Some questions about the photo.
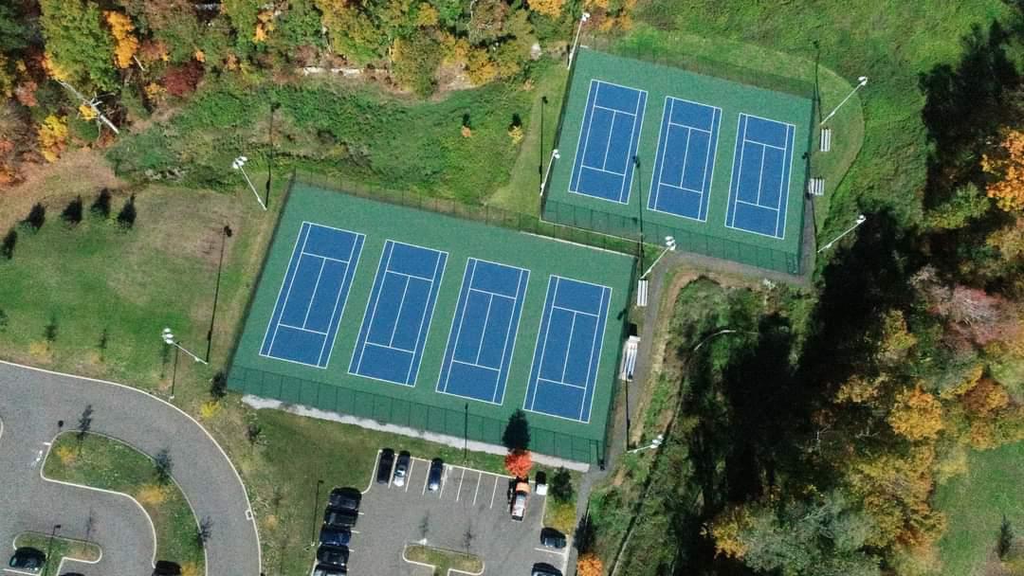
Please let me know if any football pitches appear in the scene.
No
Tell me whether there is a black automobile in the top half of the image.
No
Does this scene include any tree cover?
Yes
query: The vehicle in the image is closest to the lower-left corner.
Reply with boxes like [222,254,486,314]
[9,551,42,568]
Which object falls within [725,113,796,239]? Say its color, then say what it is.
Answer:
blue tennis court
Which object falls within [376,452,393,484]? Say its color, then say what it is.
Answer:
black car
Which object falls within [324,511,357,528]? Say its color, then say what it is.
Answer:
black car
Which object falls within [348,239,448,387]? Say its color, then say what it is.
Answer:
blue tennis court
